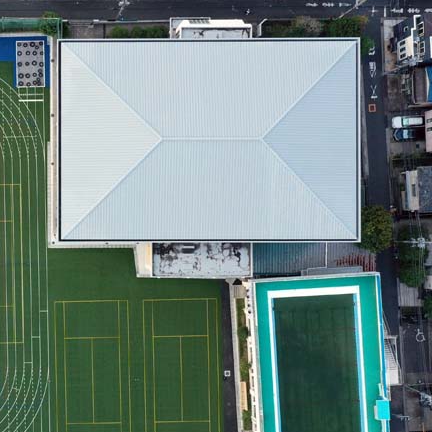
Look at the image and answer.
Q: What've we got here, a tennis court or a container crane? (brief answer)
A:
tennis court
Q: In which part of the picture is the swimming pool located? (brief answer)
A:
bottom right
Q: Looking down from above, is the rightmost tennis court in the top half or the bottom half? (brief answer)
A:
bottom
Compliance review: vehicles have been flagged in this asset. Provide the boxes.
[389,128,419,142]
[388,116,424,130]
